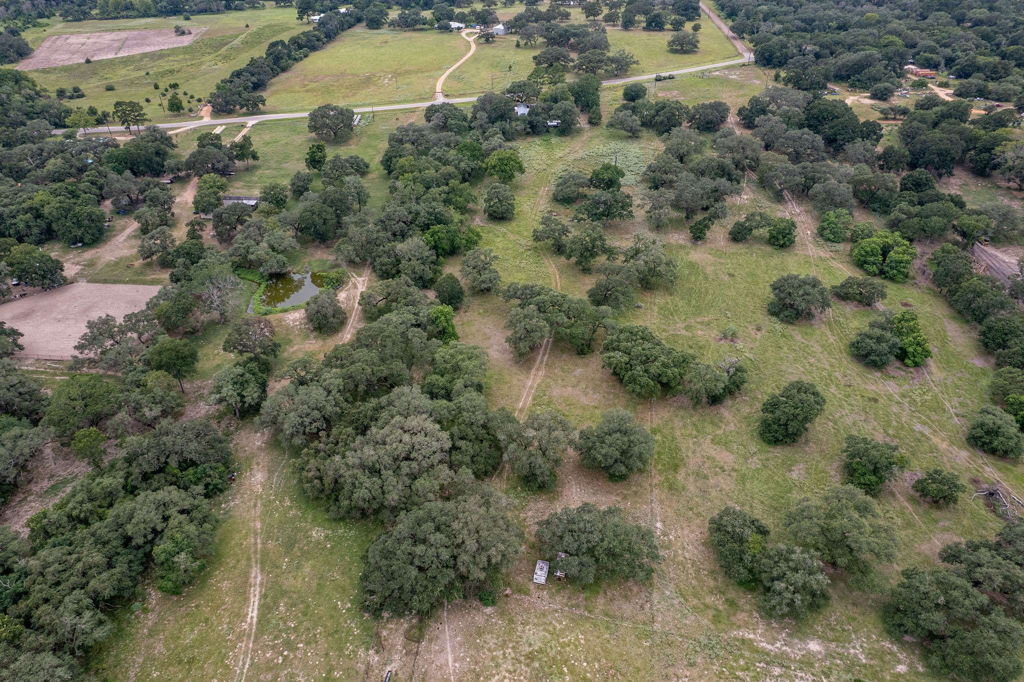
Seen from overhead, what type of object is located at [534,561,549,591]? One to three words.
vehicle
